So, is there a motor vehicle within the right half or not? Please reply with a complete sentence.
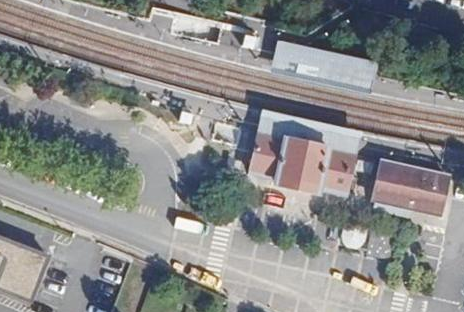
Yes, a motor vehicle appears within the right half.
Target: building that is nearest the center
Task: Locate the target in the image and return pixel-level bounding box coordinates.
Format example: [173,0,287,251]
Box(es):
[208,118,244,148]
